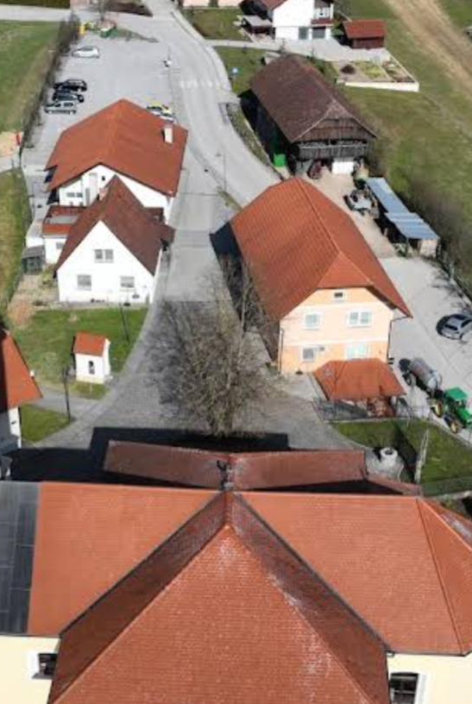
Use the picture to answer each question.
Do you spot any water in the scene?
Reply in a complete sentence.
No, there is no water in the image.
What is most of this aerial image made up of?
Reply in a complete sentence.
For the most part, this view shows buildings.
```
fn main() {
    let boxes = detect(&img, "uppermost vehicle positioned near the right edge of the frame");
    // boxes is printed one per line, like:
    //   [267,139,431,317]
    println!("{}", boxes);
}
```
[431,309,472,336]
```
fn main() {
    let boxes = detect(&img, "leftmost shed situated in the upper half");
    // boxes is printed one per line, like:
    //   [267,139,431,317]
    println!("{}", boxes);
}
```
[22,243,50,271]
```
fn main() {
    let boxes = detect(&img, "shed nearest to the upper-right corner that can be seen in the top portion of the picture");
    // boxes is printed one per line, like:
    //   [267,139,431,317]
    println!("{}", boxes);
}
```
[346,22,387,48]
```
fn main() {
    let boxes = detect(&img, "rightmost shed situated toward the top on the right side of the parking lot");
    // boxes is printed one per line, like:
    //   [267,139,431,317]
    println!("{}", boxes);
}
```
[373,205,442,260]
